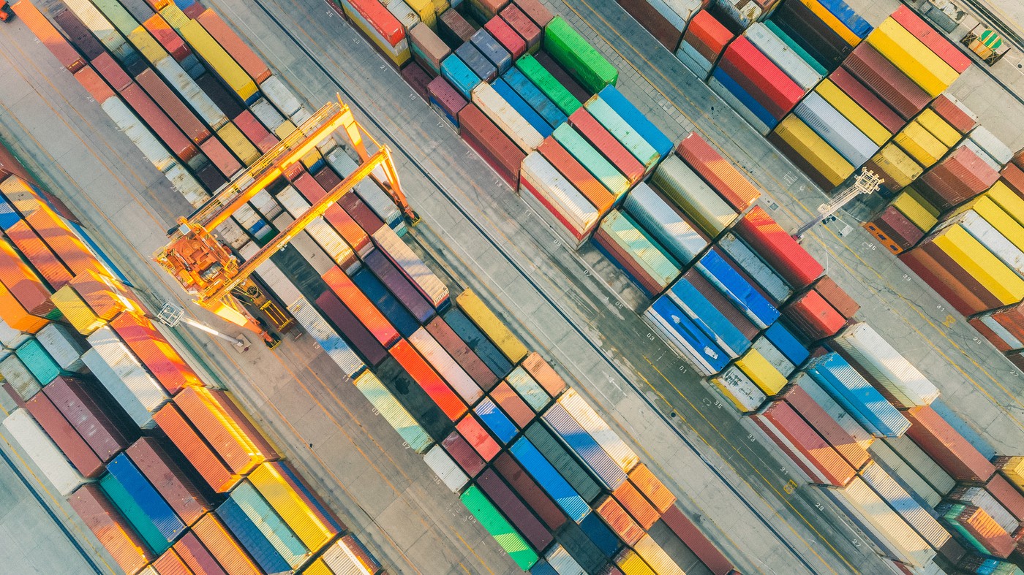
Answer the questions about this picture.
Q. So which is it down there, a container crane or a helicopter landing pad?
container crane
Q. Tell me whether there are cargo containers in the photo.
Yes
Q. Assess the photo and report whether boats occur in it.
No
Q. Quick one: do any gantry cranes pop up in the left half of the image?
Yes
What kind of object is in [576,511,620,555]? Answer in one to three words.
shipping container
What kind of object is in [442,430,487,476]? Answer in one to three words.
shipping container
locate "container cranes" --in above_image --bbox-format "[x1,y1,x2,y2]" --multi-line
[126,70,426,356]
